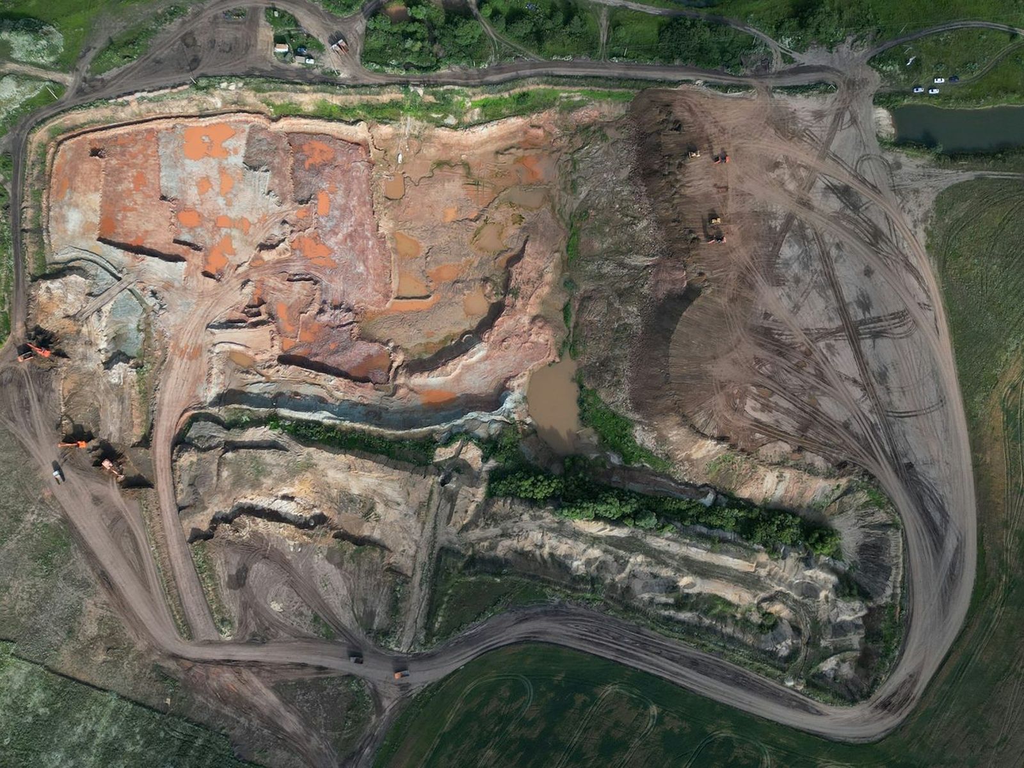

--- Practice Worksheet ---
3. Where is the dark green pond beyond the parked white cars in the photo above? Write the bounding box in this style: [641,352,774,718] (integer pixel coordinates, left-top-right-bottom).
[893,103,1024,151]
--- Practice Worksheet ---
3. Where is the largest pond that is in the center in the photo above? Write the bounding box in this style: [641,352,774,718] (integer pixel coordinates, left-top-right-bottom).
[528,364,581,456]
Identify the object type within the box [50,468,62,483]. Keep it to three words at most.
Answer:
vehicle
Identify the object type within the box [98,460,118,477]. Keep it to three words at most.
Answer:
work vehicle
